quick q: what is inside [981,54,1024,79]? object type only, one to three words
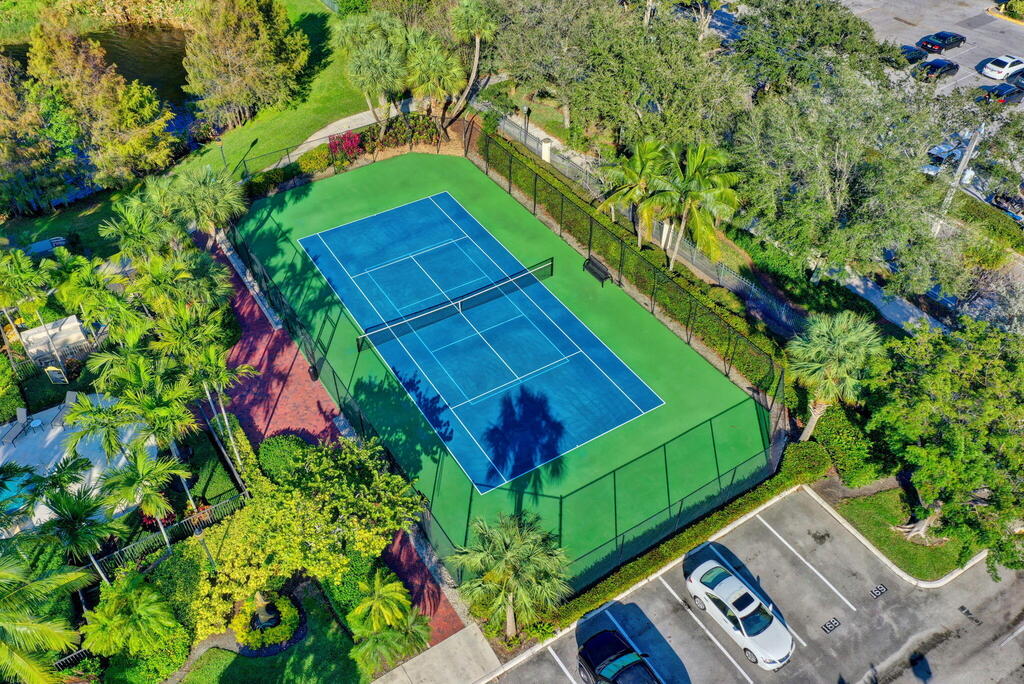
car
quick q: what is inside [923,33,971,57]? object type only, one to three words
car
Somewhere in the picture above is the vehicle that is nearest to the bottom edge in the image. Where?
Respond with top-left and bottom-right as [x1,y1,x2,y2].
[575,633,655,684]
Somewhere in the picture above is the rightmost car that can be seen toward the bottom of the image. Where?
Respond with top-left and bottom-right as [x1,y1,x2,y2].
[685,561,798,670]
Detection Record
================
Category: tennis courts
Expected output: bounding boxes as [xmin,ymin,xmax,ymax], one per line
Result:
[227,152,779,593]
